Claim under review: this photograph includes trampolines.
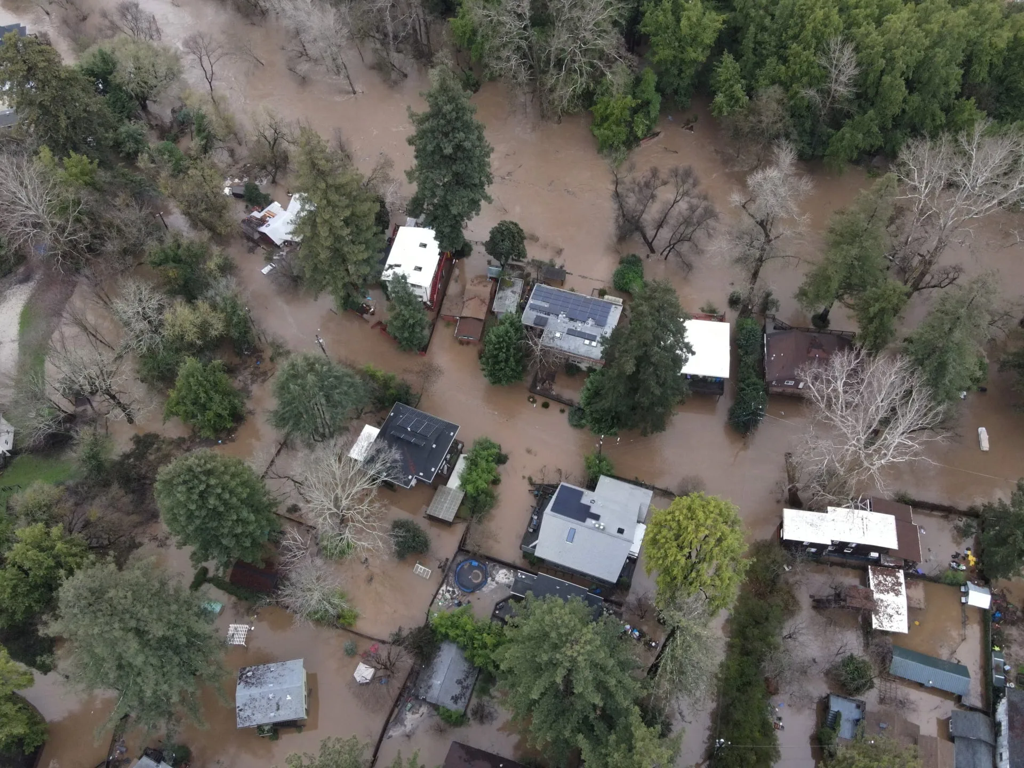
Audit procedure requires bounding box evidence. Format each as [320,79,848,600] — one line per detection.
[455,560,488,592]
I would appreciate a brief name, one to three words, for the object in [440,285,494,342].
building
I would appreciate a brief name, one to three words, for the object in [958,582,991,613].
shed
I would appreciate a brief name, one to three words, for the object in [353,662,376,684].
tent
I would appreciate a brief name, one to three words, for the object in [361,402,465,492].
house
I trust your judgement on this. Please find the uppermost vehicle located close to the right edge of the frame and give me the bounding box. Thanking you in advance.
[975,427,992,454]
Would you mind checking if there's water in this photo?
Yes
